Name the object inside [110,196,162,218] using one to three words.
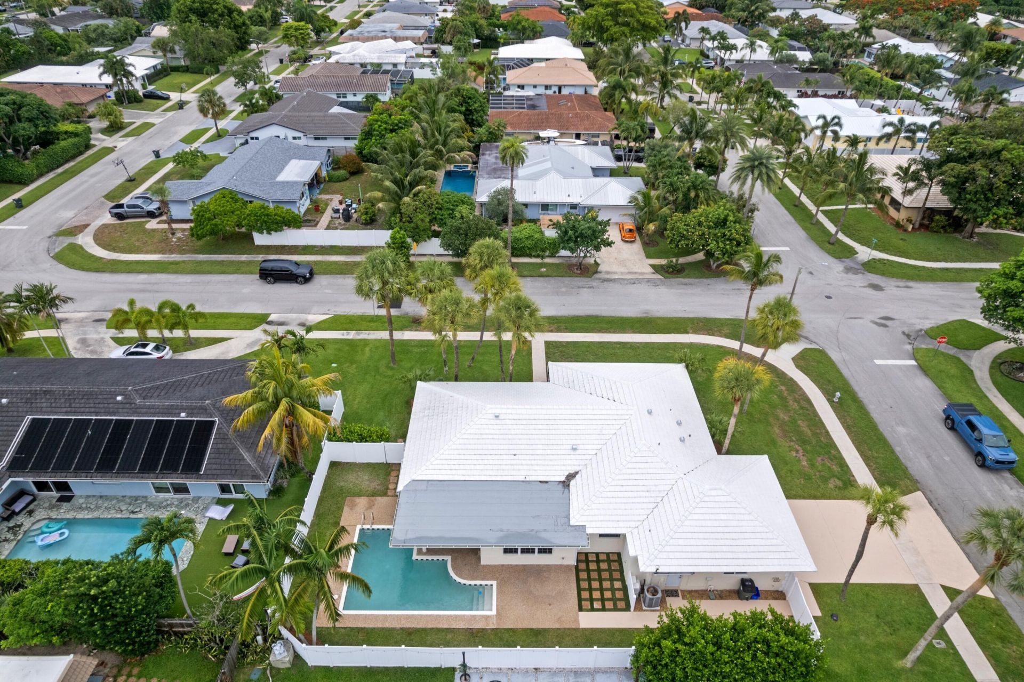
truck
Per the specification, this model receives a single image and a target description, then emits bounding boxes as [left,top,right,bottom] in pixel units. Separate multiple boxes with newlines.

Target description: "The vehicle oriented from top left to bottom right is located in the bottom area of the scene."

[947,407,1021,476]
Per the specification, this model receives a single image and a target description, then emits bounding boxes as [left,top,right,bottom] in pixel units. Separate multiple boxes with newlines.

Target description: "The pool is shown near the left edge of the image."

[5,517,187,572]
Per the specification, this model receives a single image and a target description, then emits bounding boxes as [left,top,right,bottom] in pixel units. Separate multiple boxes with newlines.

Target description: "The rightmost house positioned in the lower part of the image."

[390,361,818,588]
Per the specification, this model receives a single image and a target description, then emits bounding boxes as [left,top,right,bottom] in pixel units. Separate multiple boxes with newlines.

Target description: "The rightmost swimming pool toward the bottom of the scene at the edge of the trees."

[338,513,497,613]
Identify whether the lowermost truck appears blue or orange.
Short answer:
blue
